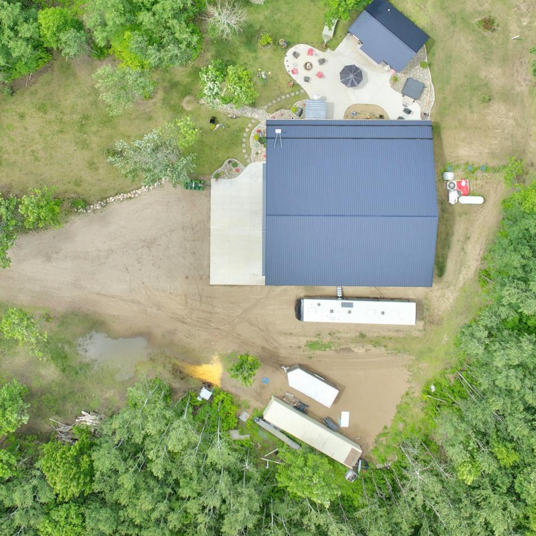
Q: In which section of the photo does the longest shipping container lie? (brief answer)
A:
bottom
